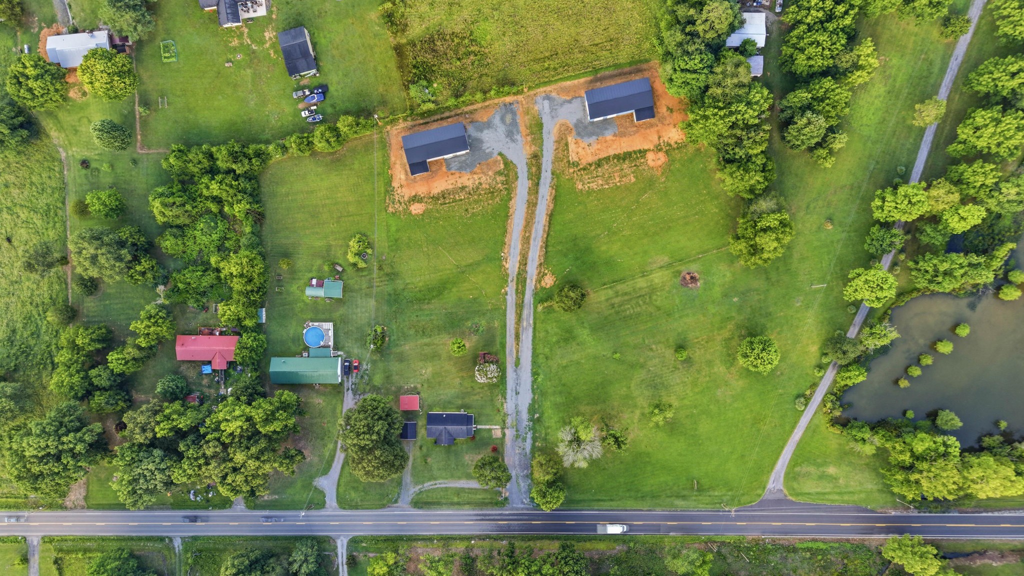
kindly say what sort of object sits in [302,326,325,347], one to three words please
swimming pool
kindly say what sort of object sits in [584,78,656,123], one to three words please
house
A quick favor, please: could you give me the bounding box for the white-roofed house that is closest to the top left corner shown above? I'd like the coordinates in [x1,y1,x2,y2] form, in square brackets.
[44,28,111,71]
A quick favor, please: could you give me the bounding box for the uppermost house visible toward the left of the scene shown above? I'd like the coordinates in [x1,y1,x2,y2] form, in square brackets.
[196,0,256,29]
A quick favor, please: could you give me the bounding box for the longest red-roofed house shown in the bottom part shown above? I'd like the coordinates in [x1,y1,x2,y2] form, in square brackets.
[174,335,239,370]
